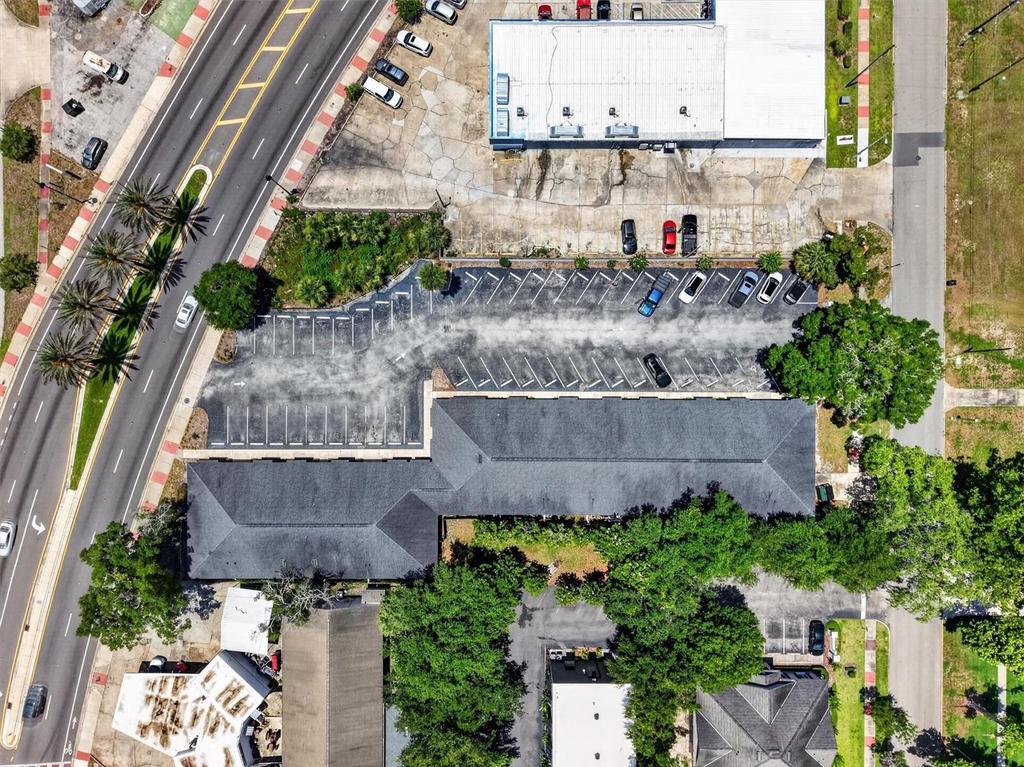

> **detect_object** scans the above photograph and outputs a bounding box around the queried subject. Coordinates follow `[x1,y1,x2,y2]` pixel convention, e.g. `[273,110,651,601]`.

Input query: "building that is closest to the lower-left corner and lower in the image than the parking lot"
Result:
[111,650,273,767]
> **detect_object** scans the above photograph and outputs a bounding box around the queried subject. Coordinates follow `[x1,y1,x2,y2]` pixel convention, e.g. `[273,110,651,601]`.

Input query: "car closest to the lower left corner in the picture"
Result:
[22,681,49,723]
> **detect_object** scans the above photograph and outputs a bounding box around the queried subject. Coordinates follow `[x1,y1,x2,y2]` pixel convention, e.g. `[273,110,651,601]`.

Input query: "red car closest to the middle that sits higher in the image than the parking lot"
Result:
[661,221,678,255]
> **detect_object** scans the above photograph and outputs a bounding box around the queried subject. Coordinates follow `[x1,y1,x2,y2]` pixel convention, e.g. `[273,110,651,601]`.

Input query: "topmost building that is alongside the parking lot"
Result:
[489,0,825,152]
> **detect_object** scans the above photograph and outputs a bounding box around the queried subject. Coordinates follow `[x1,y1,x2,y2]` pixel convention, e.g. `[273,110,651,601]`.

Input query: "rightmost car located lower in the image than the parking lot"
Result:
[807,619,826,655]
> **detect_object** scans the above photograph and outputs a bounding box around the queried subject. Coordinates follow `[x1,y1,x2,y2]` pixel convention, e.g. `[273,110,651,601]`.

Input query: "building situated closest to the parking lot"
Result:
[181,395,816,580]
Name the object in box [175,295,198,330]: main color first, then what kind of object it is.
white car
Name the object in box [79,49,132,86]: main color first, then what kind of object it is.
white van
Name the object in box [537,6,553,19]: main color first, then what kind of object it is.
red vehicle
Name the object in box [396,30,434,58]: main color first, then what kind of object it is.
white car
